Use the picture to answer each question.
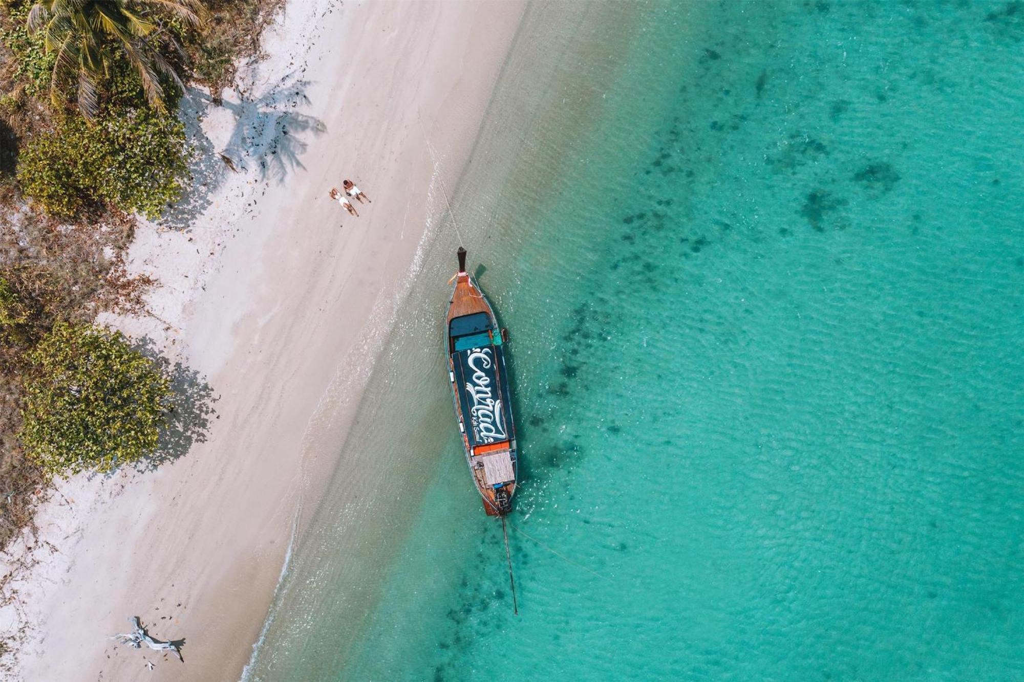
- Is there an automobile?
No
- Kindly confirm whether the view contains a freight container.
No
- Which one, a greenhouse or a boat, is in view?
boat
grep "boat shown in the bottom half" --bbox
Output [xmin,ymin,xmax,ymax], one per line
[443,248,521,614]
